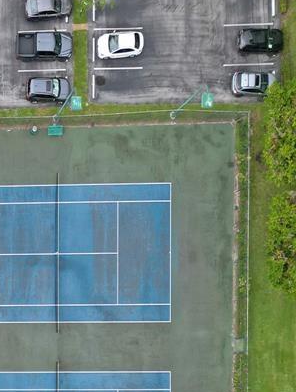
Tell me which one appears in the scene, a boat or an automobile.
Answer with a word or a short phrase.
automobile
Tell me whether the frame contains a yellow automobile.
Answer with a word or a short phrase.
No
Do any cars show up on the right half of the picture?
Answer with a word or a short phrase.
Yes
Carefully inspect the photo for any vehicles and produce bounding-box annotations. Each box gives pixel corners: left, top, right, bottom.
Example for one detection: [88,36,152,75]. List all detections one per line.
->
[23,0,73,23]
[24,74,71,106]
[232,25,282,57]
[229,68,279,100]
[94,28,144,62]
[15,28,74,65]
